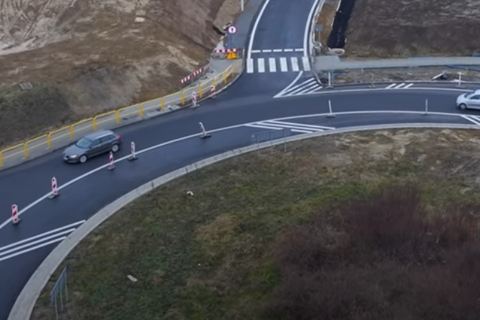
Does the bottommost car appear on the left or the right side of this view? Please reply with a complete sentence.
The bottommost car appears in the left half of the scene.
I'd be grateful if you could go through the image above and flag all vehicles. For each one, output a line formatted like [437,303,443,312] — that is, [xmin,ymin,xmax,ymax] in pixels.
[455,88,480,110]
[61,127,124,163]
